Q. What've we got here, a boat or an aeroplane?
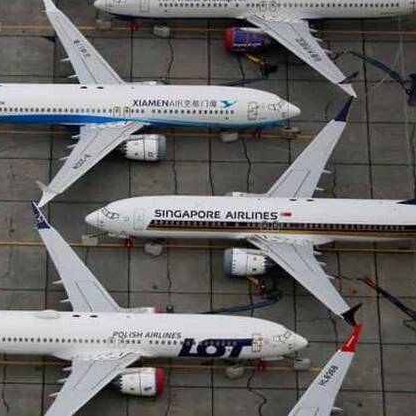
aeroplane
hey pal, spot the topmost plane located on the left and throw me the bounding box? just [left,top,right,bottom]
[0,0,301,205]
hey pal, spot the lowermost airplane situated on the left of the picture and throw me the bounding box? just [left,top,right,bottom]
[0,202,308,416]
